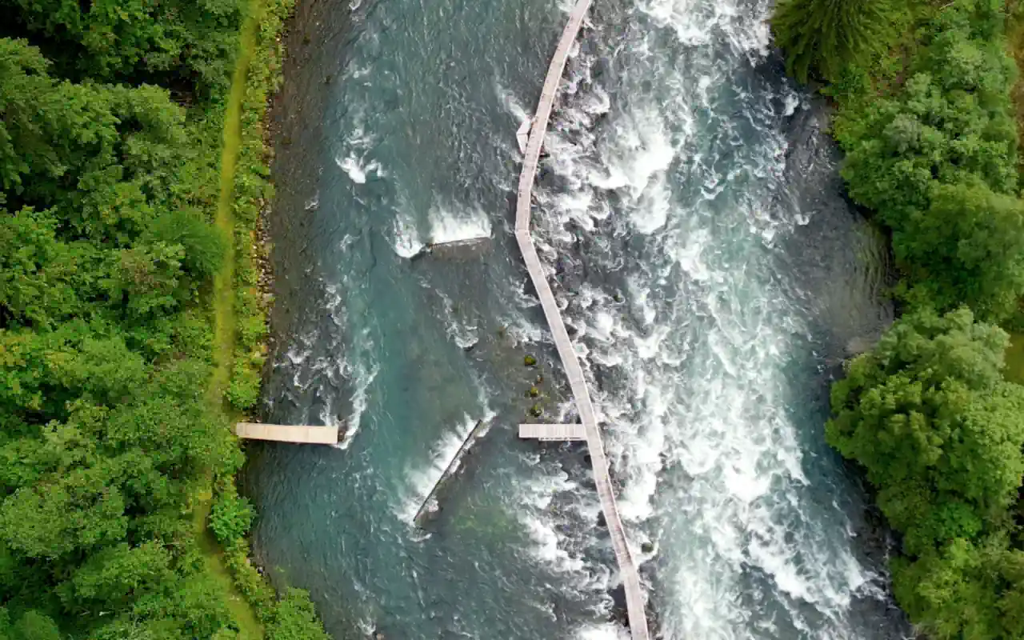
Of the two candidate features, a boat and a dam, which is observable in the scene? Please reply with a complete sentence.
Of the two, only a dam appears.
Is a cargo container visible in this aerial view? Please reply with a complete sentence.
No, I find no cargo container anywhere in the image.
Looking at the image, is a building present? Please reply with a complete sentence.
No, there's no building here.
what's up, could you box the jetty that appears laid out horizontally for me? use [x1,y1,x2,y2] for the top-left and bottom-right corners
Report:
[236,422,340,444]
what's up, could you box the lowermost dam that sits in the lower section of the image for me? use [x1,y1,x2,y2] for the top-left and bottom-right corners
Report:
[413,420,493,525]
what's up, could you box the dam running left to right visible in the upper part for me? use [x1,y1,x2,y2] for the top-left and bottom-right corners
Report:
[410,236,492,260]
